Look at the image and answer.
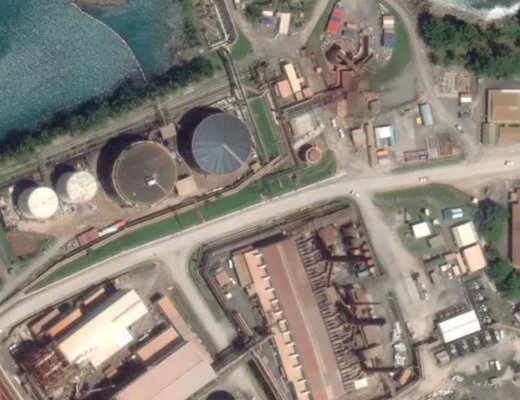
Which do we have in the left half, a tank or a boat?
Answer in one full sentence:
Looking in the left half, you will find a tank.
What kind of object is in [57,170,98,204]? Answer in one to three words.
storage tank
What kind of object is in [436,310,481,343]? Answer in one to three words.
building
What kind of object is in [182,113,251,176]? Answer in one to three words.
storage tank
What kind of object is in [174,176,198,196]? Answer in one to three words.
shed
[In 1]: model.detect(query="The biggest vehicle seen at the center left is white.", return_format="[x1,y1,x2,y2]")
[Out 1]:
[98,220,126,237]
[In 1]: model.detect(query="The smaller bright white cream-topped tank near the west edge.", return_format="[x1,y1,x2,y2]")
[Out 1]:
[18,185,59,220]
